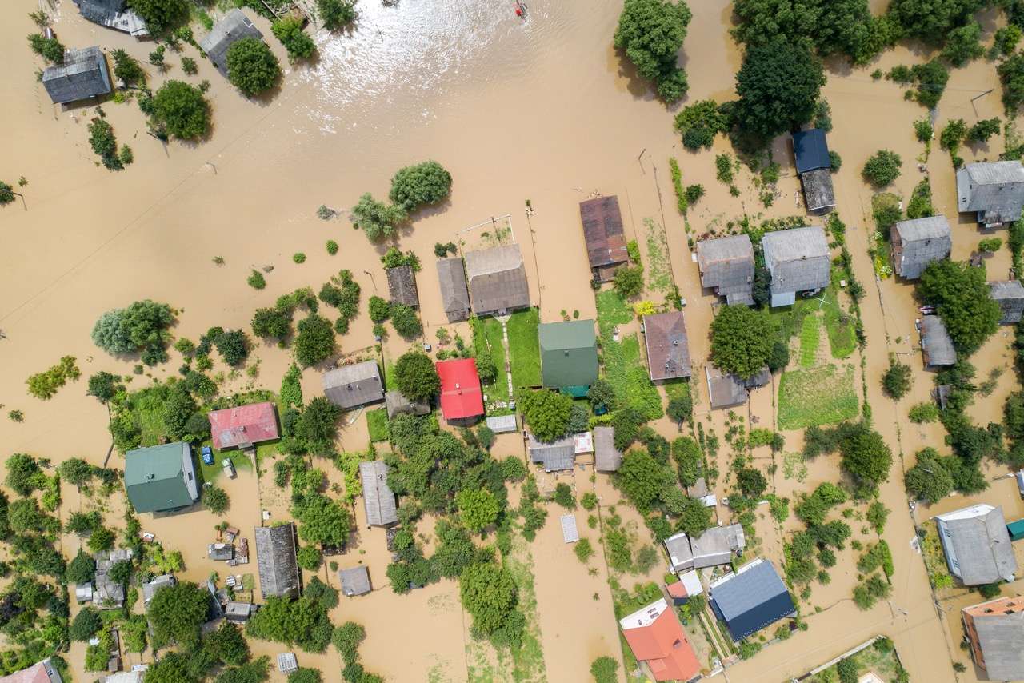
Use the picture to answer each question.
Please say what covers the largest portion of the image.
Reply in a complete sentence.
What you mostly see from above here is water.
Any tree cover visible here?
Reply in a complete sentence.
Yes, there's tree cover in this view.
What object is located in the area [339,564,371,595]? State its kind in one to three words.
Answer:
shed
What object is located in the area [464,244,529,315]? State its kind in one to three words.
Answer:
barn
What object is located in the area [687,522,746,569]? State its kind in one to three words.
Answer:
house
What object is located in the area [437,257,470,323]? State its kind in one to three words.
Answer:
building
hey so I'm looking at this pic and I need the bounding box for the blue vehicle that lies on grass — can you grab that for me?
[202,446,214,465]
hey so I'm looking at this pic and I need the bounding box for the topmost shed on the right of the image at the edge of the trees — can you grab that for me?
[790,128,831,172]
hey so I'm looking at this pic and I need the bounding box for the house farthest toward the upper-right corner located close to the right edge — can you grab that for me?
[958,160,1024,224]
